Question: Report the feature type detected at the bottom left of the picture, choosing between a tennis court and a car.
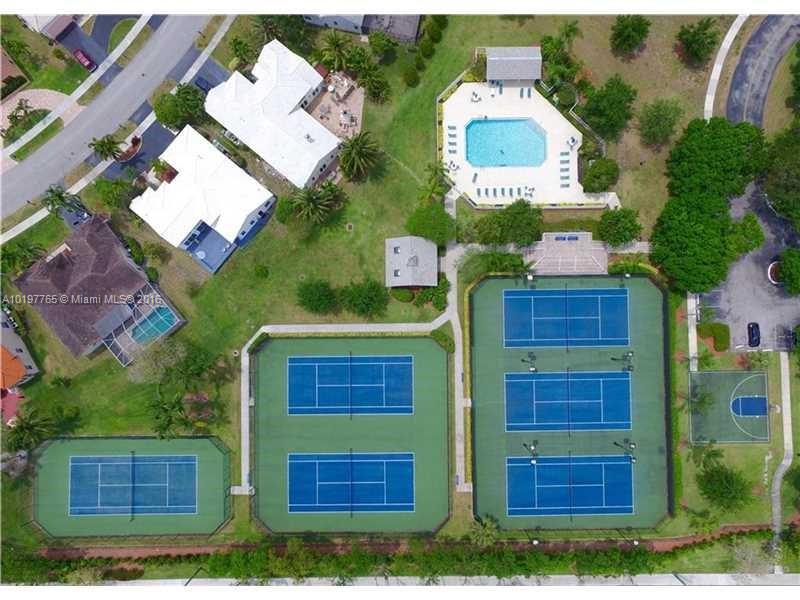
tennis court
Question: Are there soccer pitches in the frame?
No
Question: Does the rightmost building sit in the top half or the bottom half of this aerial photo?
top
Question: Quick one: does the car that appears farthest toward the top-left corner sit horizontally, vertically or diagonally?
diagonally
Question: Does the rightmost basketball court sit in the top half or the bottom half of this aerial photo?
bottom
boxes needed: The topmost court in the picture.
[472,277,665,360]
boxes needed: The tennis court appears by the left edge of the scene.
[37,437,230,536]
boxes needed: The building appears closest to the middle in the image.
[387,235,437,286]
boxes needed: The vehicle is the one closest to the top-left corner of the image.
[74,50,99,74]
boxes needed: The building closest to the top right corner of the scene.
[484,47,543,86]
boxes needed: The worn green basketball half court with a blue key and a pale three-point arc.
[690,372,770,443]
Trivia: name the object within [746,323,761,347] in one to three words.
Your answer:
car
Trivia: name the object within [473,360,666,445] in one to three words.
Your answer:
tennis court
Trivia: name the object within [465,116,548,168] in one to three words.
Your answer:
swimming pool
